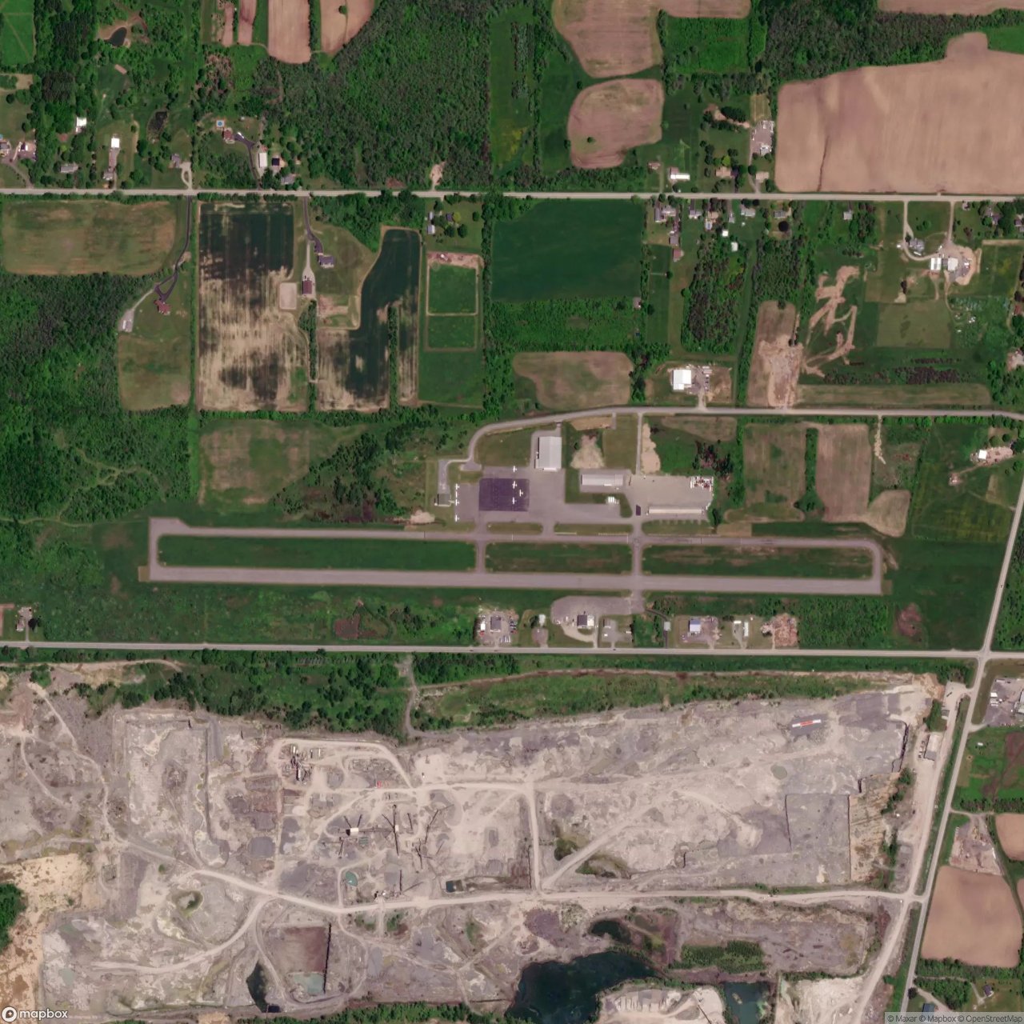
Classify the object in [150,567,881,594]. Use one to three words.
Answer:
runway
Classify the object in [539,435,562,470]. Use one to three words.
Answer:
hangar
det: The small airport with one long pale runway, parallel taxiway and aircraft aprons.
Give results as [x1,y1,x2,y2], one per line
[139,425,892,641]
